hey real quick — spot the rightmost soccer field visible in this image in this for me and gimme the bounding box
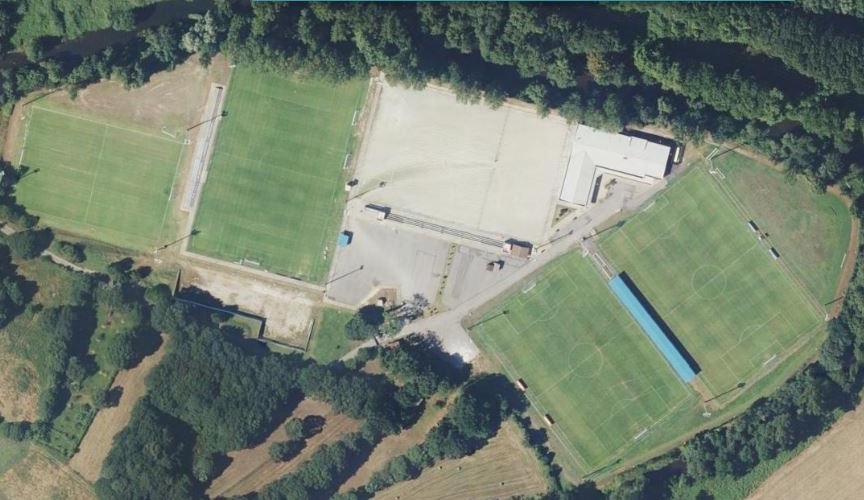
[592,160,828,406]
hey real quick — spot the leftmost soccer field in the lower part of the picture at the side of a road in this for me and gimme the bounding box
[474,247,697,474]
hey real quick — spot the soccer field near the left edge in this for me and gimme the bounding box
[5,101,191,249]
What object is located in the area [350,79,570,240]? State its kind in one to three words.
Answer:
sports field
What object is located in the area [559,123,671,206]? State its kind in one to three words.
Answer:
building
